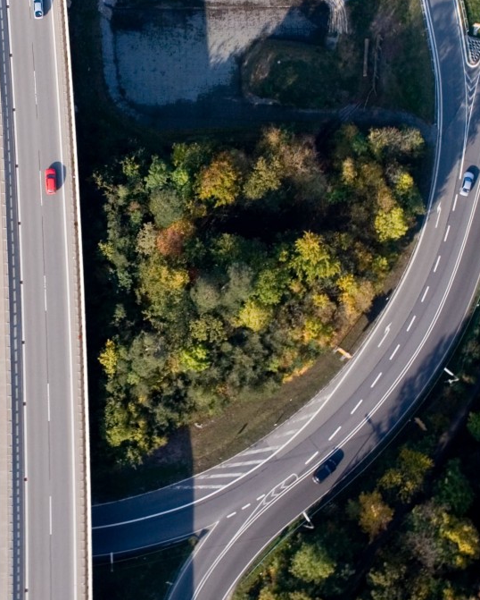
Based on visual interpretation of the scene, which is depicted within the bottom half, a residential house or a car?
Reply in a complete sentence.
It is a car that can be seen within the bottom half.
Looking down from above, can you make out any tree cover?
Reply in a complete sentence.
Yes, tree cover shows up in the scene.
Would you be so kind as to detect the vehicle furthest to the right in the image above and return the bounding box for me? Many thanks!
[459,171,475,197]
